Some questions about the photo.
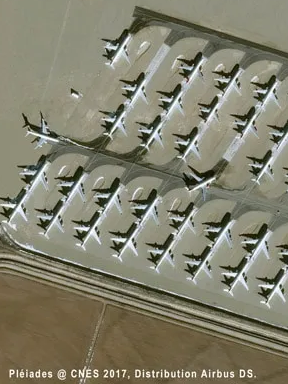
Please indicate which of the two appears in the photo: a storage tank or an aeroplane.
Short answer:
aeroplane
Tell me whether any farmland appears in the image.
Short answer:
Yes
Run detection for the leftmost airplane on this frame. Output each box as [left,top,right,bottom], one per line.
[1,195,27,225]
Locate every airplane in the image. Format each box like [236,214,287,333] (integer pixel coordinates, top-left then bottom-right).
[270,132,288,153]
[260,273,287,305]
[218,70,244,98]
[25,120,59,149]
[96,187,122,218]
[139,120,165,149]
[105,38,131,66]
[207,223,233,253]
[1,195,27,225]
[185,174,215,200]
[181,57,206,86]
[112,228,139,259]
[38,205,64,236]
[149,239,176,271]
[249,157,275,186]
[22,164,49,195]
[59,176,86,206]
[159,90,185,118]
[175,133,201,161]
[244,234,270,264]
[122,78,148,107]
[102,110,128,139]
[254,82,280,110]
[75,217,102,249]
[200,102,220,125]
[223,261,250,292]
[187,249,213,281]
[171,209,196,238]
[132,198,159,230]
[233,113,259,141]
